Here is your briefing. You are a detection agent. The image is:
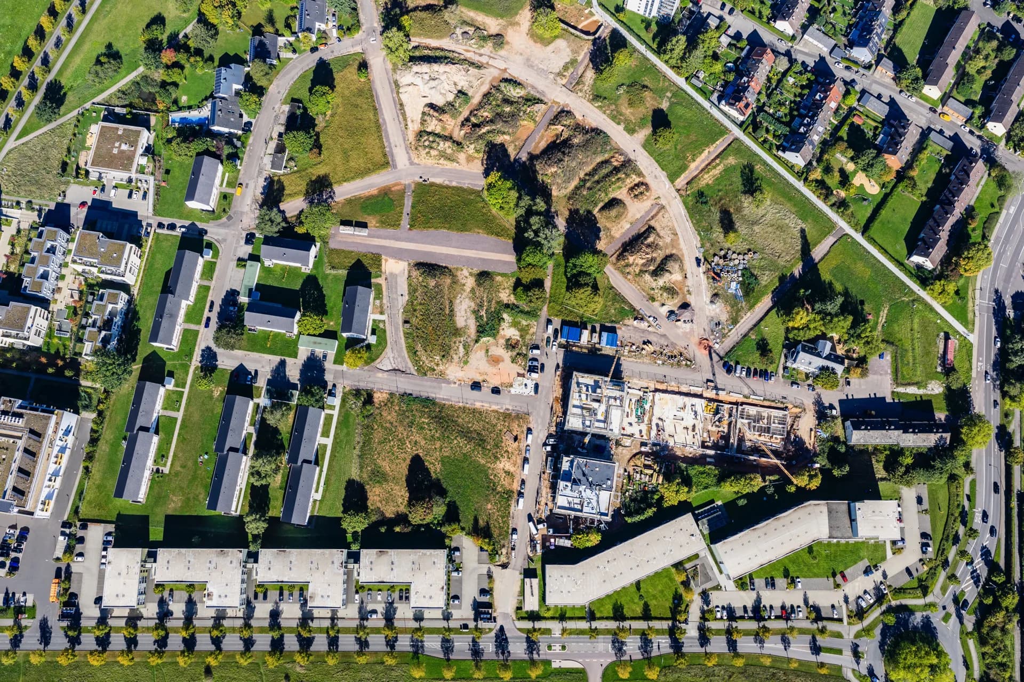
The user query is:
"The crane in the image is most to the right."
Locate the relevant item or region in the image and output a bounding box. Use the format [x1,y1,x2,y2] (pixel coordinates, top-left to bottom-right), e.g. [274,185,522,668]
[712,405,798,484]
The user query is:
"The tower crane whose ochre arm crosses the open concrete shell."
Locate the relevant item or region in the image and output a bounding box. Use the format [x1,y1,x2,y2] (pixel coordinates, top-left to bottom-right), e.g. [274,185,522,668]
[576,351,619,463]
